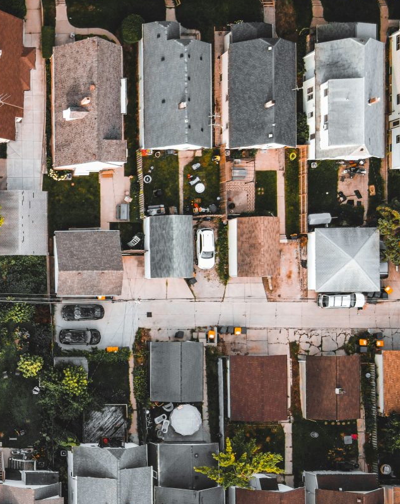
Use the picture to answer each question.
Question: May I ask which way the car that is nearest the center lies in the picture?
from top to bottom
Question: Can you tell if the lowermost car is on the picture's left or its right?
left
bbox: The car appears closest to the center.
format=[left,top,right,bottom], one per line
[198,227,220,269]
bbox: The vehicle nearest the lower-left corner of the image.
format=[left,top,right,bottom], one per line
[60,327,103,347]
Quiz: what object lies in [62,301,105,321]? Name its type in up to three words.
car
